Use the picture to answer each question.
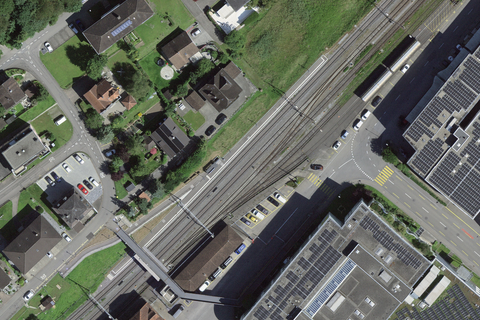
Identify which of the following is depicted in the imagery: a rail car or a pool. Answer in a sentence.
The image shows a rail car.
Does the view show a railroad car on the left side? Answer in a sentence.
No, no railroad car can be made out on the left side.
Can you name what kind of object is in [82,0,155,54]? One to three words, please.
house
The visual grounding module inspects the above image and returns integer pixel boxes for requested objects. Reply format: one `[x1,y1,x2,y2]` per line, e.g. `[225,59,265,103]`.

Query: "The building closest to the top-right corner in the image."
[401,42,480,218]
